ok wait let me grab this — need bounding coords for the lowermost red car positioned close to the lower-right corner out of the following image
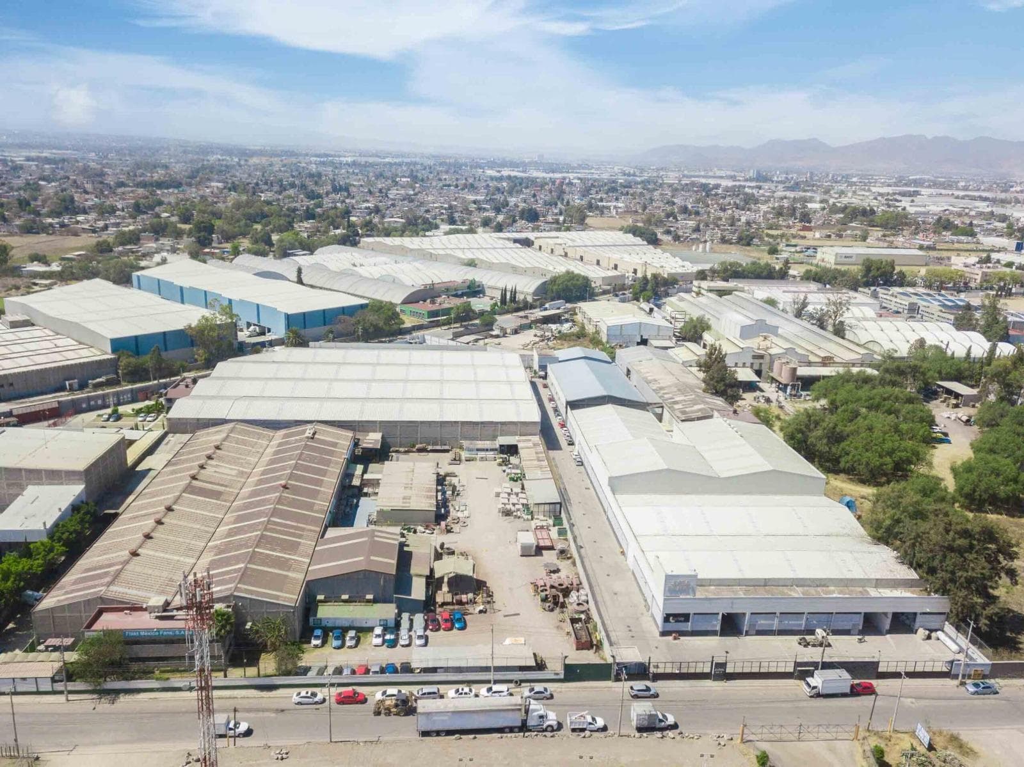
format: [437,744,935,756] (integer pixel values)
[850,681,881,695]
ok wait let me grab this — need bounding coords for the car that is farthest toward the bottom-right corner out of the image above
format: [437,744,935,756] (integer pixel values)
[966,680,999,695]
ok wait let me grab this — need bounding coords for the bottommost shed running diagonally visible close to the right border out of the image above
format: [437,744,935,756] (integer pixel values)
[934,381,979,409]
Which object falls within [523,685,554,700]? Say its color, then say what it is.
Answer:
gray car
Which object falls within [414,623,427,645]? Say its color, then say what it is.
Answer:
white vehicle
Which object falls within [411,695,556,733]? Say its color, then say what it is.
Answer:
white truck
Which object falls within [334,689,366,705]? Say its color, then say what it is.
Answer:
red car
